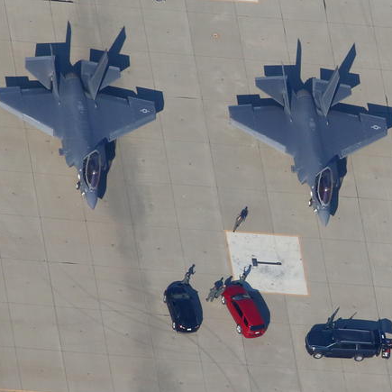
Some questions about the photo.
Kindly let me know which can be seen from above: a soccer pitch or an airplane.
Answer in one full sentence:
Of the two, only an airplane appears.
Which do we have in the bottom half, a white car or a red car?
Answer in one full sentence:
You can see a red car in the bottom half.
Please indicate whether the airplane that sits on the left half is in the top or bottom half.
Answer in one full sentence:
You can find the airplane that sits on the left half in the top half.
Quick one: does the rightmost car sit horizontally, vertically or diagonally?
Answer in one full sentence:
What the image shows is the rightmost car lying horizontally.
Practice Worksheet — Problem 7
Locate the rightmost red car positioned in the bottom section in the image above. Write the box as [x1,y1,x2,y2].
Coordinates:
[221,288,264,340]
